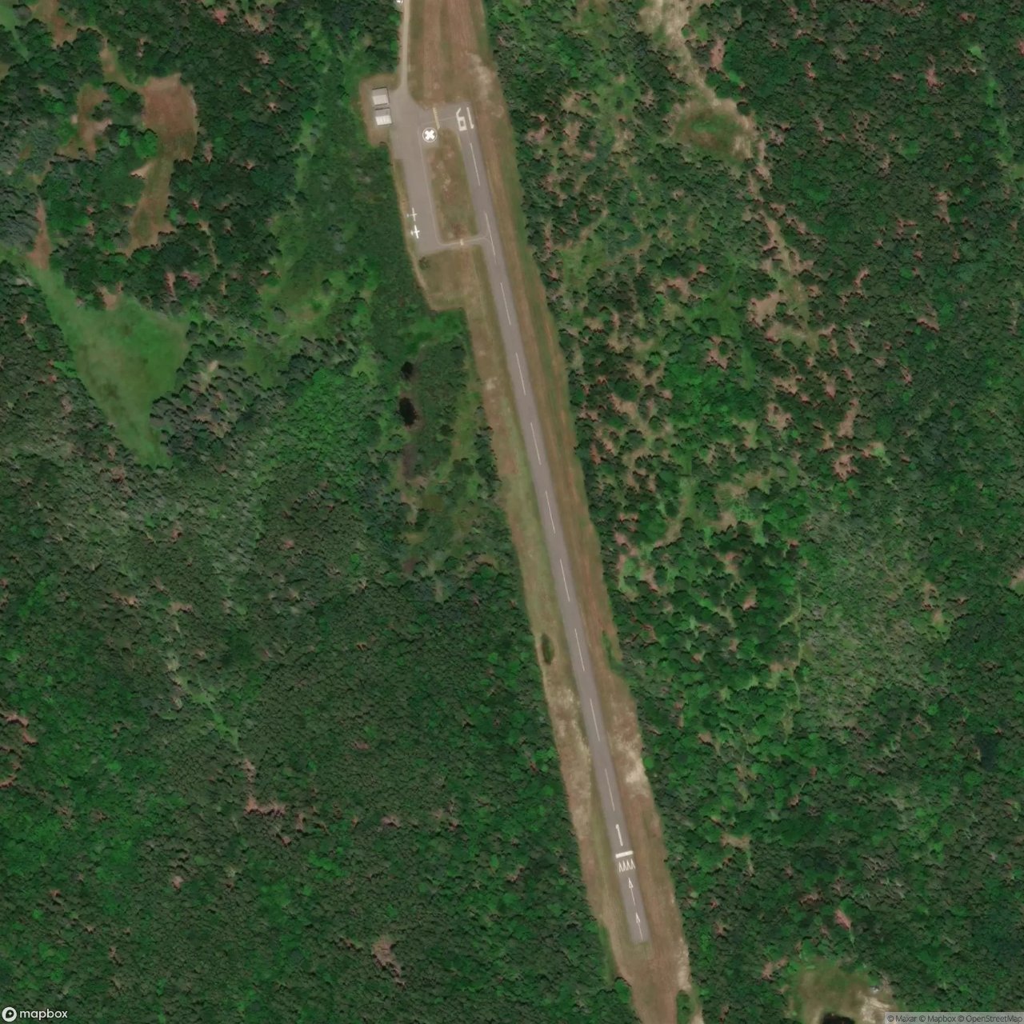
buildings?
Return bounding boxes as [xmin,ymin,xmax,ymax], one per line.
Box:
[373,88,389,106]
[376,108,393,126]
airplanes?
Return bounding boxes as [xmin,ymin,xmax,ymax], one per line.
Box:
[410,225,419,237]
[408,208,417,221]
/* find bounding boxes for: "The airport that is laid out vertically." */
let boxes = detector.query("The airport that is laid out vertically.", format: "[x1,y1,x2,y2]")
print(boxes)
[360,0,705,1024]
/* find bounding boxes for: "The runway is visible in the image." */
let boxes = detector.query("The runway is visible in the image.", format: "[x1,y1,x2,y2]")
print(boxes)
[453,102,650,943]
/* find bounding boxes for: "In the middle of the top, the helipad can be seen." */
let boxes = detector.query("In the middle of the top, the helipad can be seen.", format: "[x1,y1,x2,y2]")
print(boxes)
[422,127,437,142]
